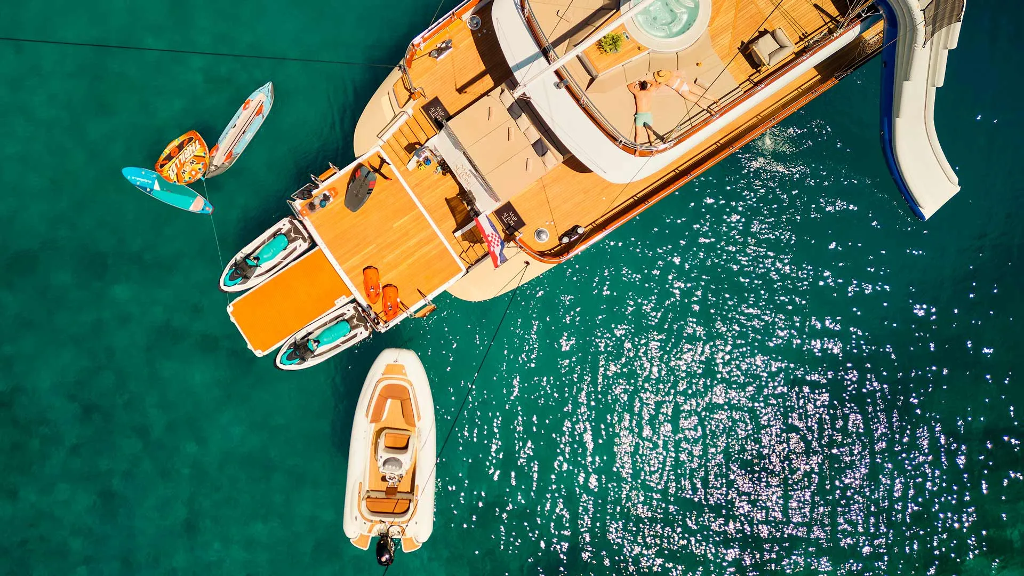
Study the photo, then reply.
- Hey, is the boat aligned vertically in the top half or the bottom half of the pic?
bottom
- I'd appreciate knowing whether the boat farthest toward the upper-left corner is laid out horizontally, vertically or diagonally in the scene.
diagonally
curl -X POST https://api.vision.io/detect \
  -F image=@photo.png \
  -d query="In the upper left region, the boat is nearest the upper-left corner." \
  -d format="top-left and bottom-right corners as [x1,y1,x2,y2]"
[204,81,278,180]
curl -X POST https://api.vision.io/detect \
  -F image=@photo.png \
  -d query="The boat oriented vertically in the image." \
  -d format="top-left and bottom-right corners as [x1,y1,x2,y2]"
[346,348,437,568]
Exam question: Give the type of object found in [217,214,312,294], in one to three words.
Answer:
boat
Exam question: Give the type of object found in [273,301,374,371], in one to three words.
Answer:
boat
